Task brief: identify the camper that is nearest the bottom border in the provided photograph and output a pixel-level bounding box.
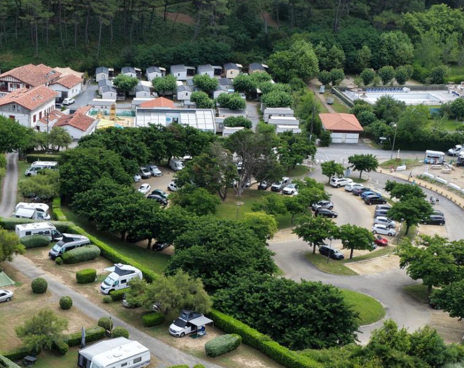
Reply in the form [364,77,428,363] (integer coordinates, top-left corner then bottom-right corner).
[79,331,154,368]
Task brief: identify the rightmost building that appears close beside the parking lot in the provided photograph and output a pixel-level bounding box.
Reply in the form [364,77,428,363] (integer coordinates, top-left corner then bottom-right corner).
[309,116,366,142]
